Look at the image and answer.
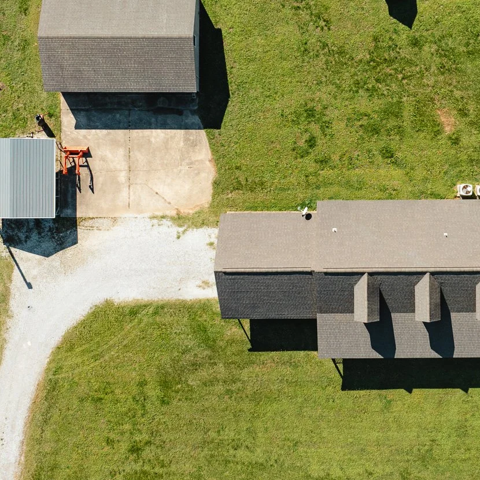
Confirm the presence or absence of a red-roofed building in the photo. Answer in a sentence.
No, I find no red-roofed building anywhere in the image.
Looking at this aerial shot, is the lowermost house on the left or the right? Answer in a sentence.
The lowermost house sits on the right side.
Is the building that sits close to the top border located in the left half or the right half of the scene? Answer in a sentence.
The building that sits close to the top border sits on the left side.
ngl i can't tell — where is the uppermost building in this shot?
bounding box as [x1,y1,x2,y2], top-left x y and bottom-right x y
[36,0,199,91]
